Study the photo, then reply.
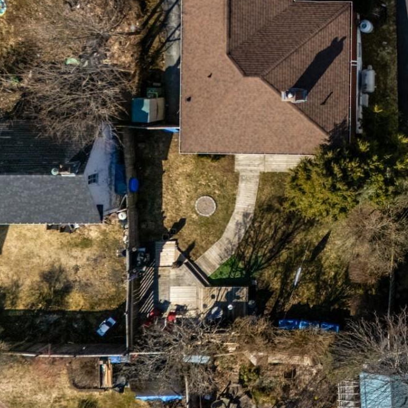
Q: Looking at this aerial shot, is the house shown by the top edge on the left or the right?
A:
right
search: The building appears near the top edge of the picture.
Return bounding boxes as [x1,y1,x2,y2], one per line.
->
[179,0,362,155]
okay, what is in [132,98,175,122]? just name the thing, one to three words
shed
